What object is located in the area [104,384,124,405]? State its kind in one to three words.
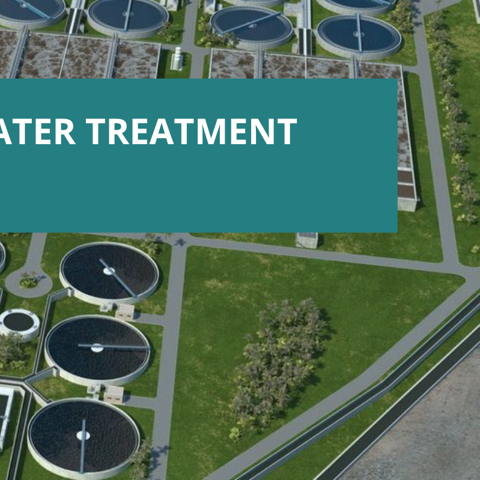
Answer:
shed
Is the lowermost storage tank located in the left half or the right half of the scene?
left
